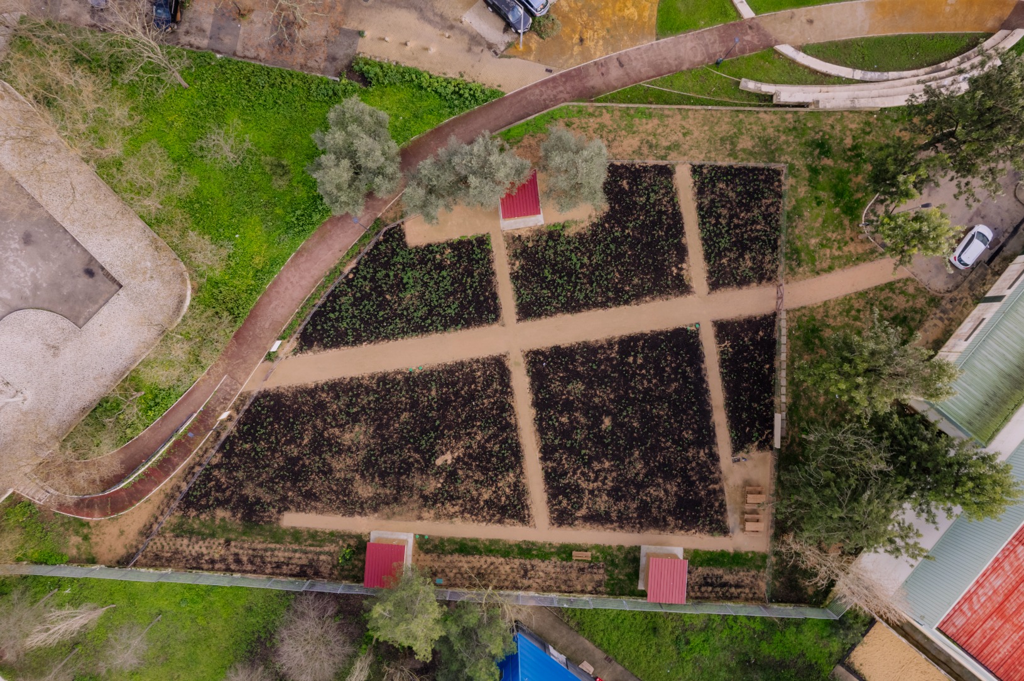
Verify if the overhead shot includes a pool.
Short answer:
No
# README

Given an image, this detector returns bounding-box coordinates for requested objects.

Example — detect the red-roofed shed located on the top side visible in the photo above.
[499,173,546,229]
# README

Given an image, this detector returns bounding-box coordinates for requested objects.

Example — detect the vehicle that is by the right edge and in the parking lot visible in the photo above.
[957,223,996,269]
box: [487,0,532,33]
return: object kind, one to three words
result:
car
